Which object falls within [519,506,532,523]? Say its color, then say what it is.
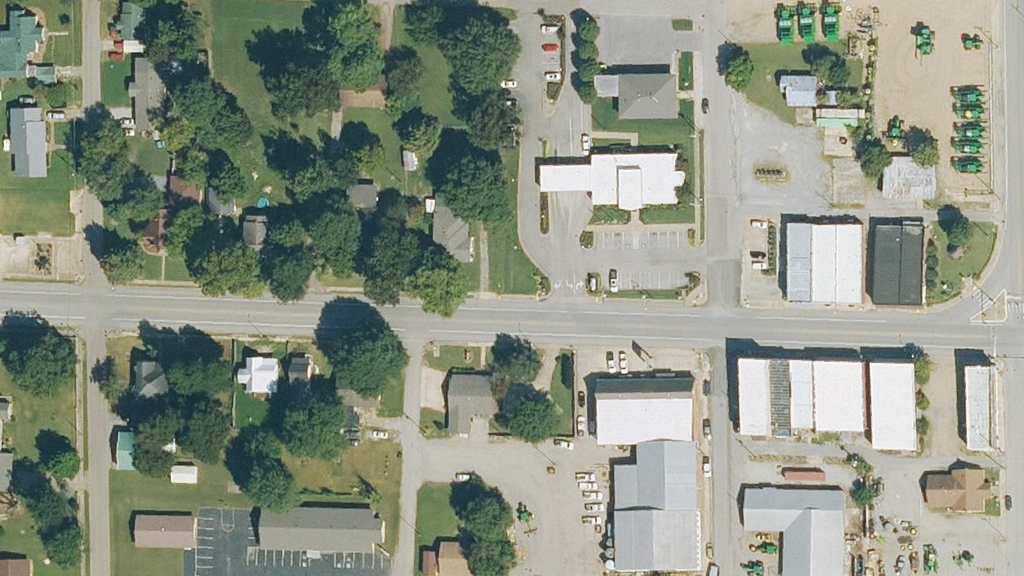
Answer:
green vehicle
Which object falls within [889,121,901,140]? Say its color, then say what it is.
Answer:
green vehicle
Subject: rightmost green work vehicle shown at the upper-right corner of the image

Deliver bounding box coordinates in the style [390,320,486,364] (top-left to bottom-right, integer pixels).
[964,37,982,49]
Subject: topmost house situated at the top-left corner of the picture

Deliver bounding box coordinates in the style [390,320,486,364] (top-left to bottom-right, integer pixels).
[109,1,144,38]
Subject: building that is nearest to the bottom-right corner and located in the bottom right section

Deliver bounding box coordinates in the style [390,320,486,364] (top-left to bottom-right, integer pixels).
[926,469,990,514]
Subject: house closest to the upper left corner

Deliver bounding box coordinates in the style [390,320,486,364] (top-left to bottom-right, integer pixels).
[0,11,45,76]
